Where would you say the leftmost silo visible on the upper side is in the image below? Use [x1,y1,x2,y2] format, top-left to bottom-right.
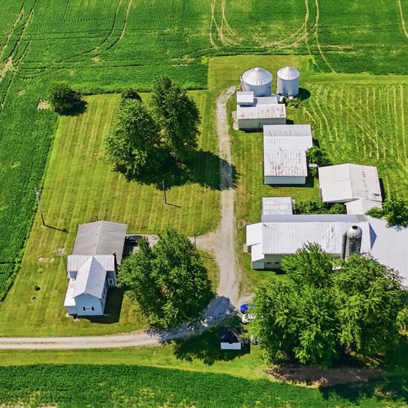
[242,68,274,97]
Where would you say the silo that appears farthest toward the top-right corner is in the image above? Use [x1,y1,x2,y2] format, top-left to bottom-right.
[276,66,300,96]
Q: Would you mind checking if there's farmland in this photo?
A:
Yes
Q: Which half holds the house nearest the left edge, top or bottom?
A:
bottom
